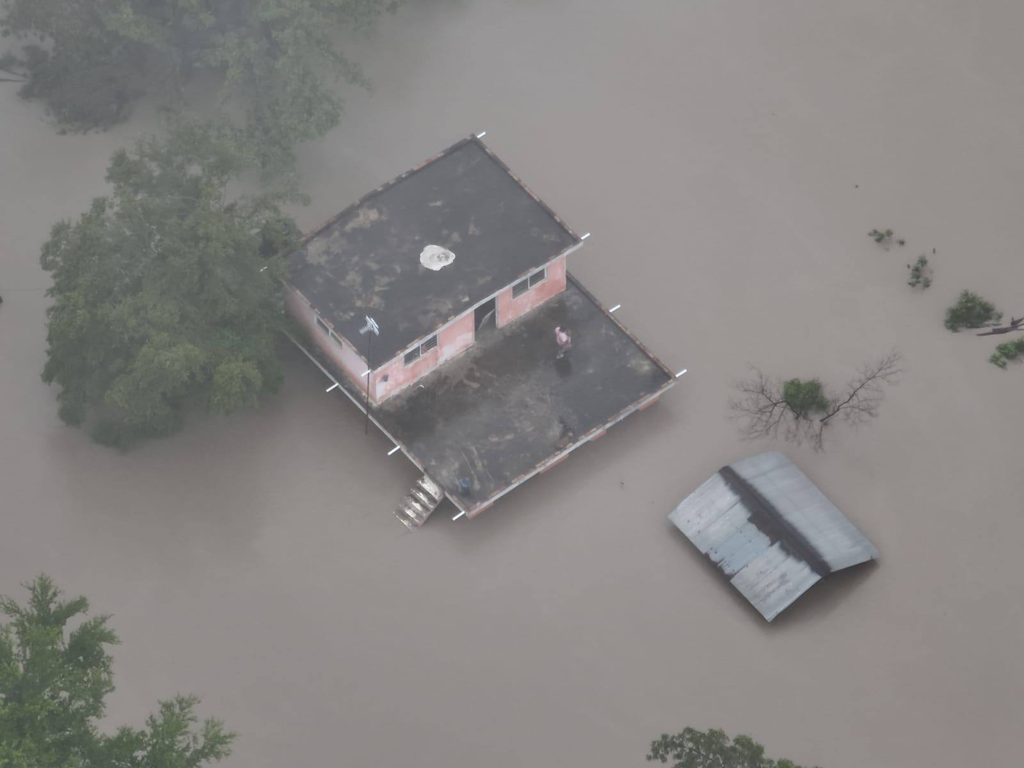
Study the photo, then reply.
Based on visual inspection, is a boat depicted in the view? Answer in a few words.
No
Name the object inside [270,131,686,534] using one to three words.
house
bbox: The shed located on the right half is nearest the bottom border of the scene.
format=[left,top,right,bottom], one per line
[669,451,877,621]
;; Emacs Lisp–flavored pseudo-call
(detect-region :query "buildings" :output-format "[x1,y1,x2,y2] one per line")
[669,451,877,621]
[270,131,686,534]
